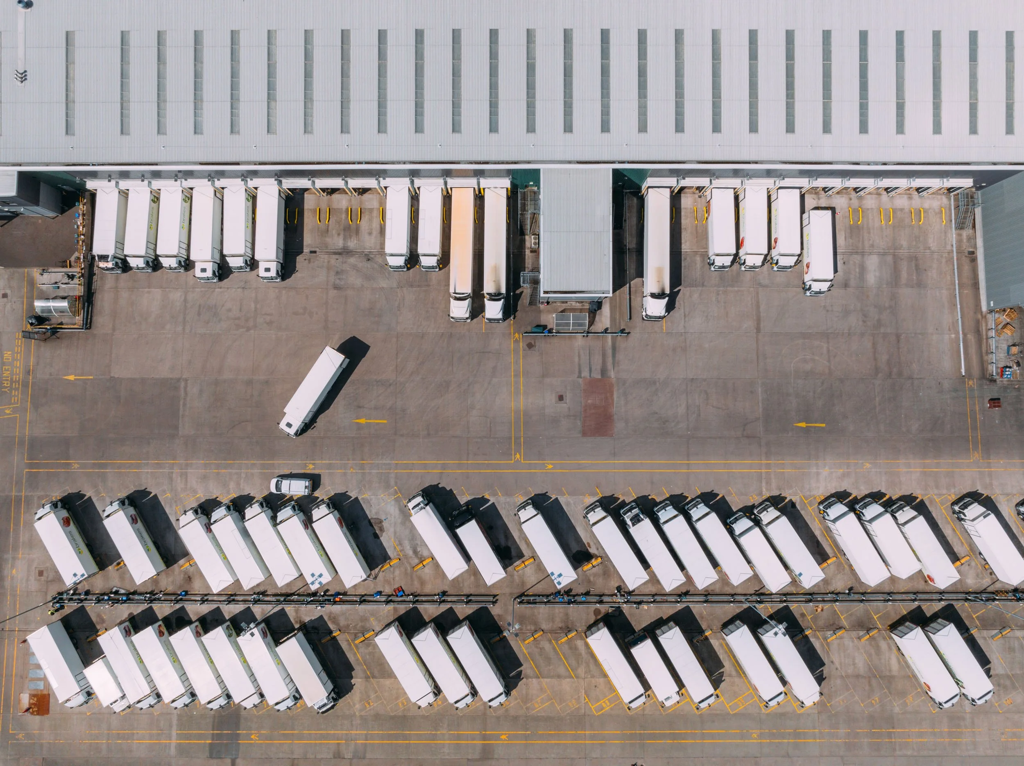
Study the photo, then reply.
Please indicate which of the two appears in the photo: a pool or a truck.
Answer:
truck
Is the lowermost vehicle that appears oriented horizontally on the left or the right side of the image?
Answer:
left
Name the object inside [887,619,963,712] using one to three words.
truck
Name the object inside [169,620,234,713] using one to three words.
truck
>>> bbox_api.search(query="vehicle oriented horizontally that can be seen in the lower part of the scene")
[270,477,314,498]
